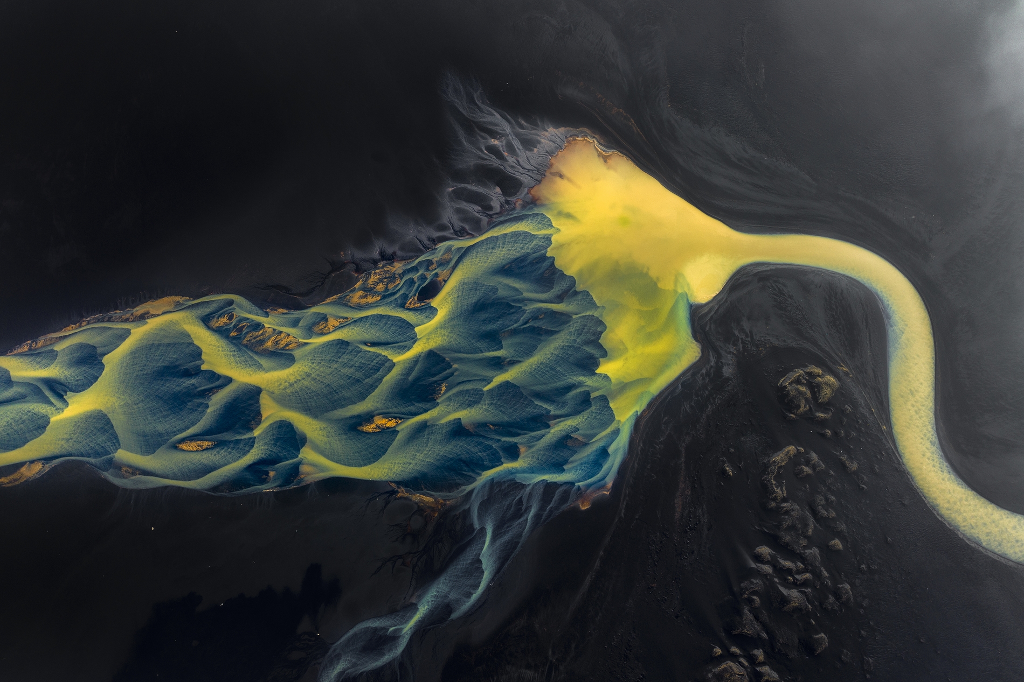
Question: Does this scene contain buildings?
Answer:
No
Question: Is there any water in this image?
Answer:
Yes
